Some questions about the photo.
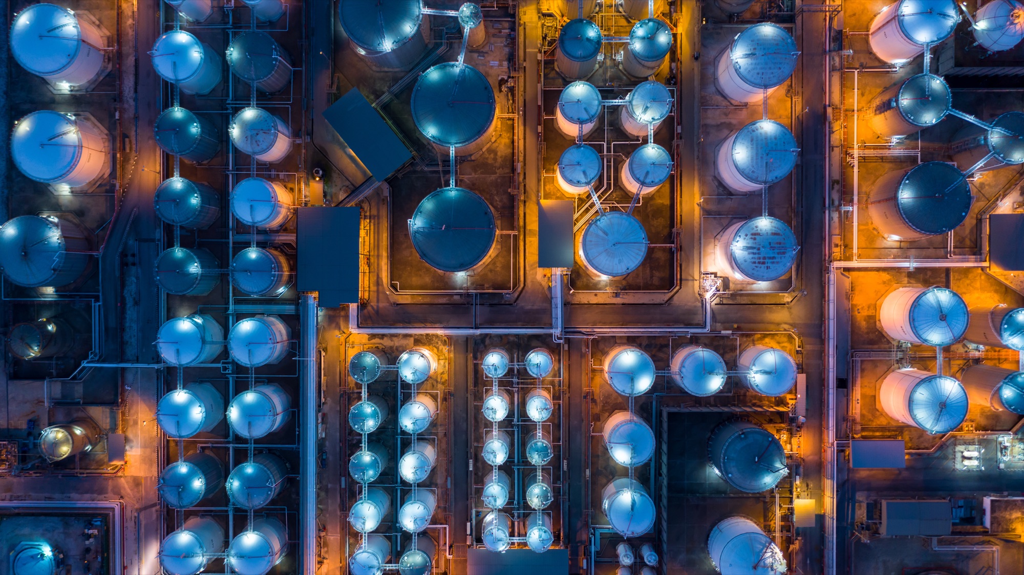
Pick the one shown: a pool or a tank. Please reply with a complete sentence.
The image shows a tank.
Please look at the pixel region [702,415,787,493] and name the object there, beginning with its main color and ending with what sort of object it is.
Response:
blue storage tank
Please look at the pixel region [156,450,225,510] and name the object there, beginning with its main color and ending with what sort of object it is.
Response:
blue storage tank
